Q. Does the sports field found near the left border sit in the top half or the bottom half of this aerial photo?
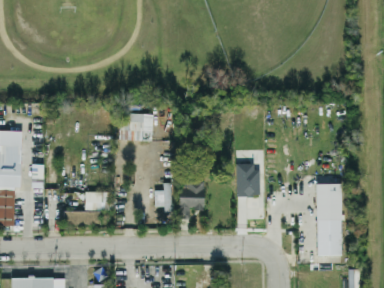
top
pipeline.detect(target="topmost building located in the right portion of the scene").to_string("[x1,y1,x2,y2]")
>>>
[236,162,260,197]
